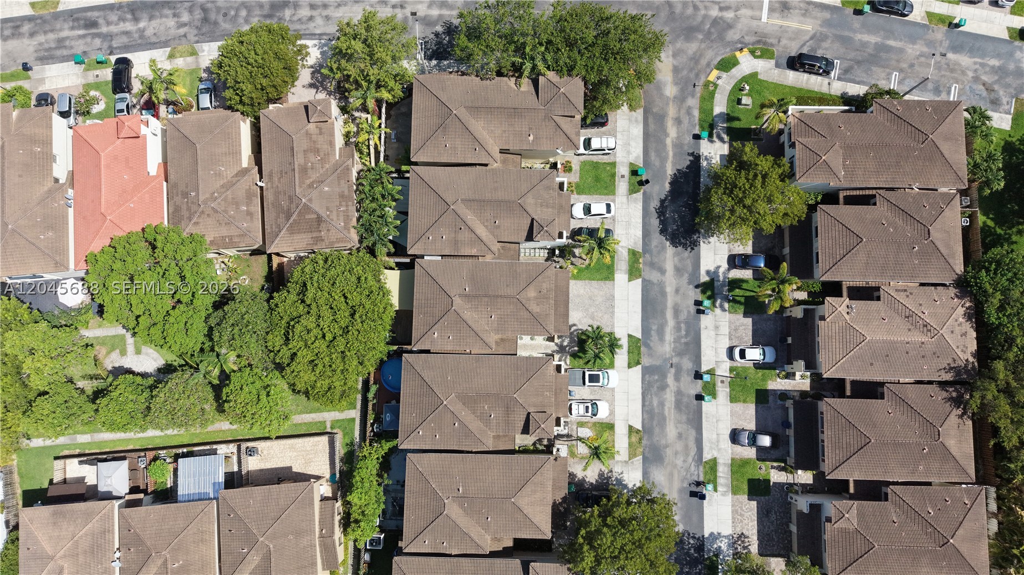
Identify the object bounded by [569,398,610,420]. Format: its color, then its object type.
white car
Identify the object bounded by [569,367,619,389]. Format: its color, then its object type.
white truck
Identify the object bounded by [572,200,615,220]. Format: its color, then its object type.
white car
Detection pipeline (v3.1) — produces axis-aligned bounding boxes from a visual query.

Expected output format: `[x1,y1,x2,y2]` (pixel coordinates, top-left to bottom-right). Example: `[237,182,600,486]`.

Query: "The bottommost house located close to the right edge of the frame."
[775,480,992,575]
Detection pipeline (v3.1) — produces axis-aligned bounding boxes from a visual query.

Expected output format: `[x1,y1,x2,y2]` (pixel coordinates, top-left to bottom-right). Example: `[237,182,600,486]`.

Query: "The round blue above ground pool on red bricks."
[379,352,405,396]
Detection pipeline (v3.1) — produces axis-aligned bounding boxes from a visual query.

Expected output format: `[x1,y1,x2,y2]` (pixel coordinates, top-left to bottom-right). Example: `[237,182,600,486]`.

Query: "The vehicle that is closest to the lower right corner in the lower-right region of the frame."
[731,428,776,450]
